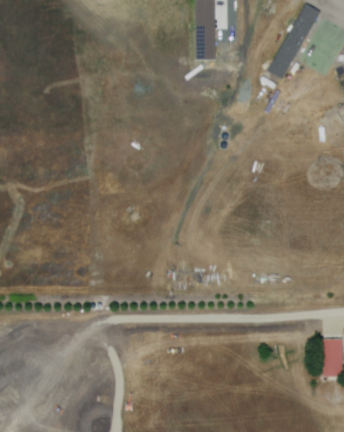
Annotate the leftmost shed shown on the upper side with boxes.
[197,0,218,59]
